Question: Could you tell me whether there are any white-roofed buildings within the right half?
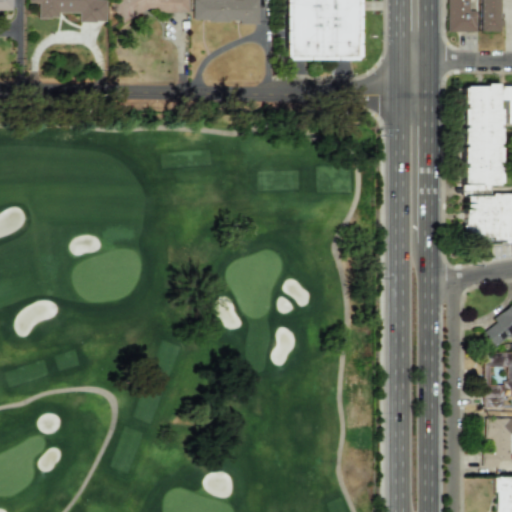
Yes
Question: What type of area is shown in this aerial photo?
golf course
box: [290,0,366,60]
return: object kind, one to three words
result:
building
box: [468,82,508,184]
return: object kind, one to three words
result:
building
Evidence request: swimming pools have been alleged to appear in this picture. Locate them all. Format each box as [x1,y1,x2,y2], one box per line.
[492,366,508,386]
